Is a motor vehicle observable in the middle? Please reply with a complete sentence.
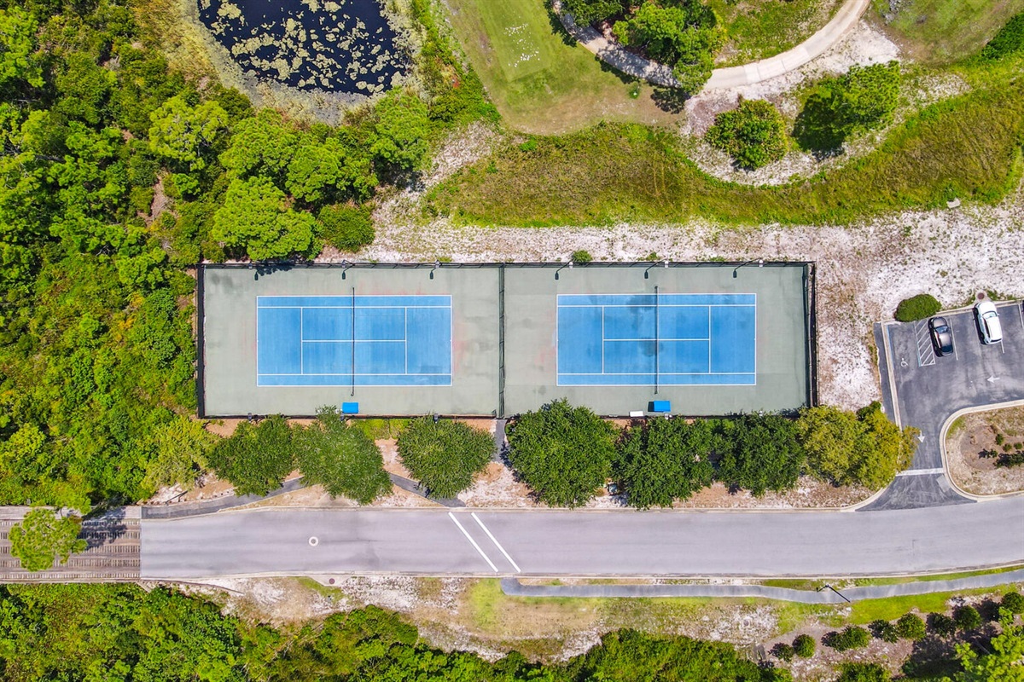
No, no motor vehicle is visible in the middle.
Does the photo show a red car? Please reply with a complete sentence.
No, I find no red car anywhere in the image.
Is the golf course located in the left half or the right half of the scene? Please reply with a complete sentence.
The golf course appears in the right half of the scene.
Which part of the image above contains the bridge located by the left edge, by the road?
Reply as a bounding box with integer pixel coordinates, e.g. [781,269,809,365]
[0,505,141,584]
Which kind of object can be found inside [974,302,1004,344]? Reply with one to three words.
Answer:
car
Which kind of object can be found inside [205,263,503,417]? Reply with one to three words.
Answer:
tennis court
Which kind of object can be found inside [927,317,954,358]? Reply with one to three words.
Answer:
car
